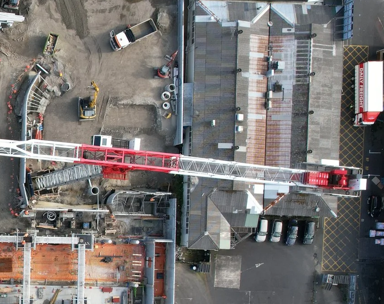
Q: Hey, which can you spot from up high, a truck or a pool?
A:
truck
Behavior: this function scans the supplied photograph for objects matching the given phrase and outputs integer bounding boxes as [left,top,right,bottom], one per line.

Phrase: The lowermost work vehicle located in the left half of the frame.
[78,76,99,121]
